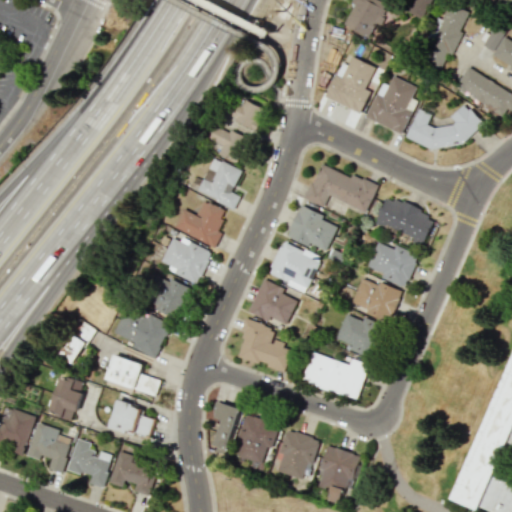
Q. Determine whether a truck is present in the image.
Yes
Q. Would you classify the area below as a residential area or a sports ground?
residential area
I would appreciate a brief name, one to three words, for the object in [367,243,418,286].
house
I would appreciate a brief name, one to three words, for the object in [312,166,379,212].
house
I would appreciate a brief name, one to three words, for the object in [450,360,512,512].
building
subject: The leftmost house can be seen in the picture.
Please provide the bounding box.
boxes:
[0,408,36,454]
